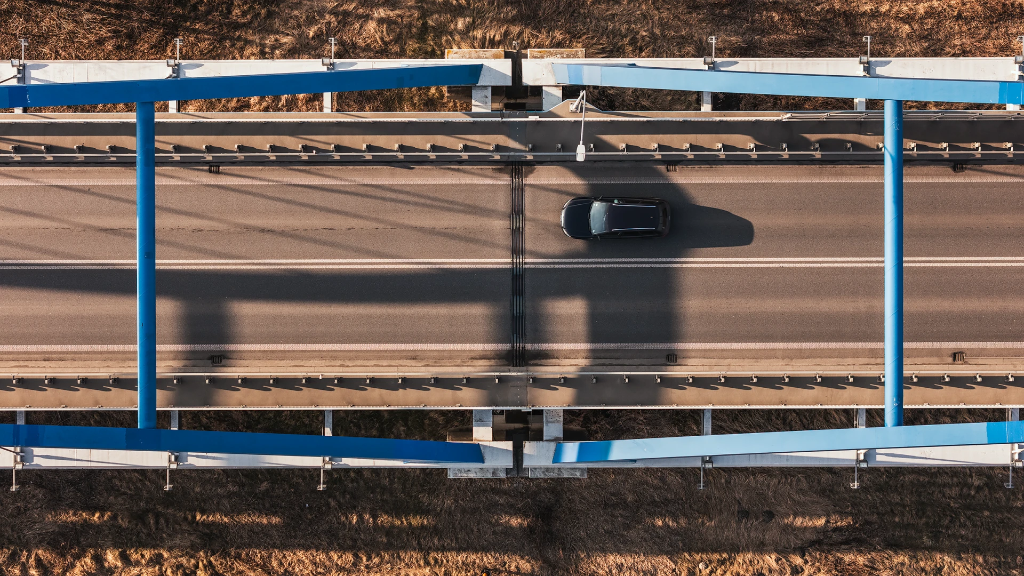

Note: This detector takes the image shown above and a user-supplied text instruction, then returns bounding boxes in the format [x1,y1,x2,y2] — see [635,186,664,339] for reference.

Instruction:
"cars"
[560,192,670,242]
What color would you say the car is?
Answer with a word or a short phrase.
black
